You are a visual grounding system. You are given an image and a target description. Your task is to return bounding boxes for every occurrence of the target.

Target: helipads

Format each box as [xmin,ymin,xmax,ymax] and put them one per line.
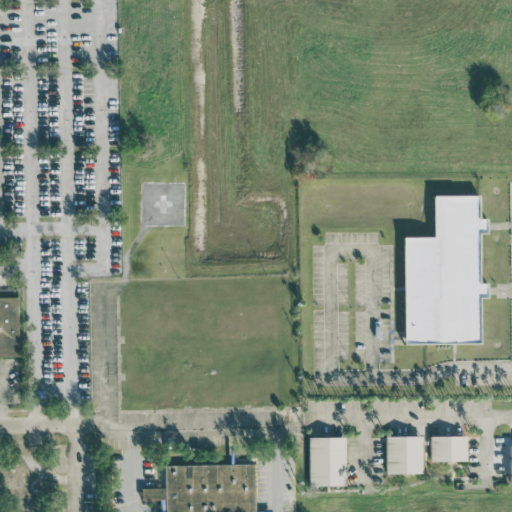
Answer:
[142,183,186,226]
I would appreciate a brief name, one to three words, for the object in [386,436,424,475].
house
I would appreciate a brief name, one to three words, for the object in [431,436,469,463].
house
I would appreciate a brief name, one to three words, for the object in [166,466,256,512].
building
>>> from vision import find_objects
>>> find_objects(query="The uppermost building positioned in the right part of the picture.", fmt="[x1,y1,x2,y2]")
[396,195,491,347]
